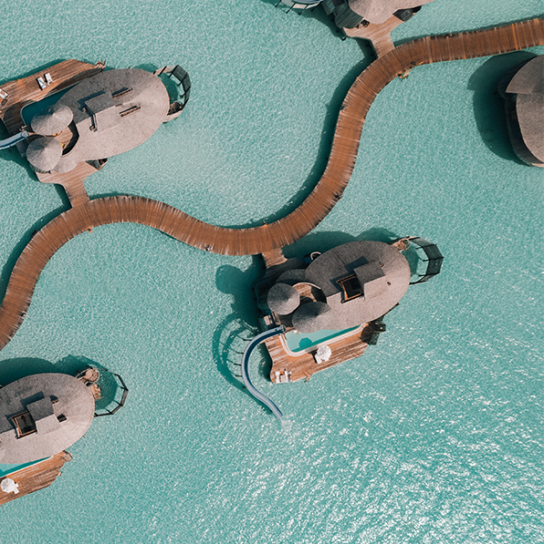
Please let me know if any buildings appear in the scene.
Yes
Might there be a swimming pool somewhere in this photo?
Yes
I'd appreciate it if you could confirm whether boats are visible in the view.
No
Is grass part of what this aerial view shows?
No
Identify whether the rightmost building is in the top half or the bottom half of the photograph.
top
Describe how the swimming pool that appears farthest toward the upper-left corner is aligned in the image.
at an angle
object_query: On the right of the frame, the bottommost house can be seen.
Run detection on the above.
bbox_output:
[250,242,414,386]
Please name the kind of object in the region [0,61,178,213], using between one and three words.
house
